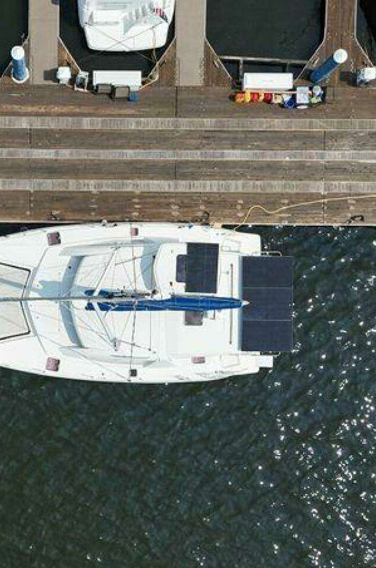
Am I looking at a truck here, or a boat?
boat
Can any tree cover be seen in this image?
No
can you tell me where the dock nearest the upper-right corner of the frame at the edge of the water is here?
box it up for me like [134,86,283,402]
[293,0,376,87]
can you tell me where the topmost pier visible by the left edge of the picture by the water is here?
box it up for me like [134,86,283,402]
[0,0,77,85]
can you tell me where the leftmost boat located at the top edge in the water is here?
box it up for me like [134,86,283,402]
[78,0,174,52]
